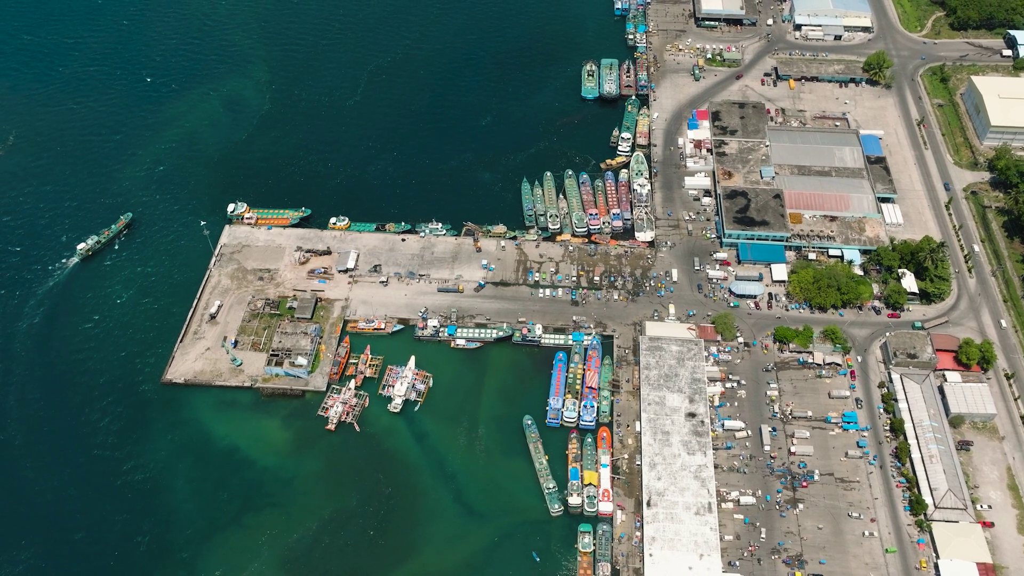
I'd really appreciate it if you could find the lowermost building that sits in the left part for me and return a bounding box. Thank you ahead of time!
[264,320,322,380]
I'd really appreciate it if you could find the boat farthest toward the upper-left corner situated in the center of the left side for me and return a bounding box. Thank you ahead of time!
[71,211,133,266]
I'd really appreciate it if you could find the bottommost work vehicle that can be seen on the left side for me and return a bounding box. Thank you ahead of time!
[224,341,241,371]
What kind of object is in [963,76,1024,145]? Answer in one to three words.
building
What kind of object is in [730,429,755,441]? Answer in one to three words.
vehicle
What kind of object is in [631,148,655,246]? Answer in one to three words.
vessel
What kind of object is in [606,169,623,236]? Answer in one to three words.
boat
